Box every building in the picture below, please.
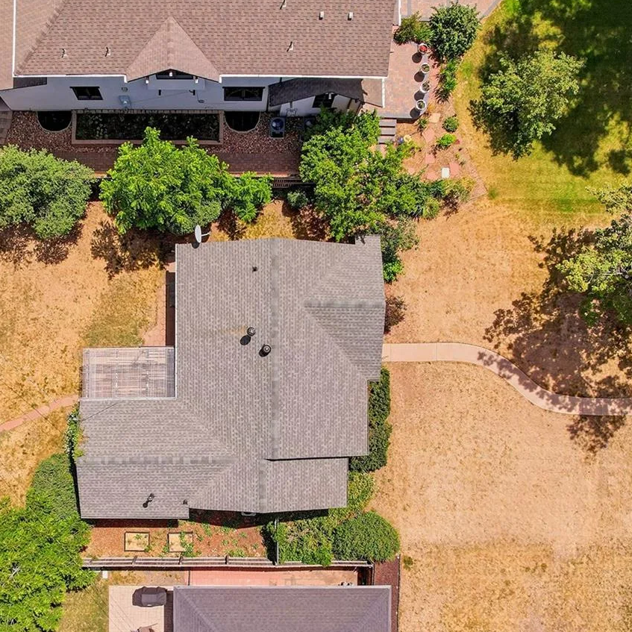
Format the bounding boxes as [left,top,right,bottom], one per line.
[77,236,385,520]
[0,0,403,117]
[170,583,392,632]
